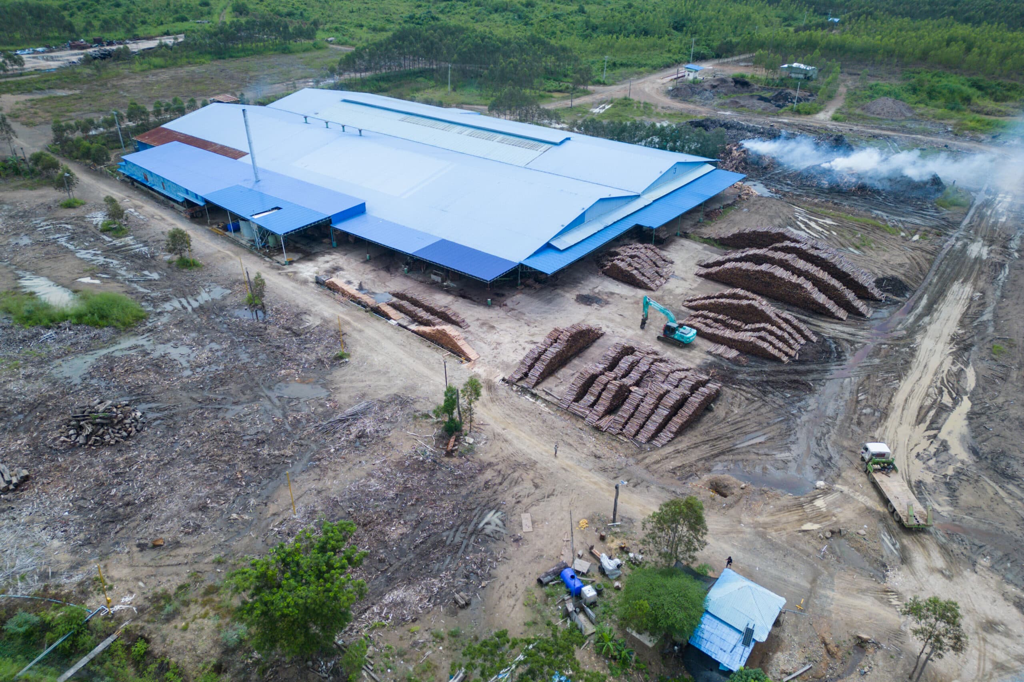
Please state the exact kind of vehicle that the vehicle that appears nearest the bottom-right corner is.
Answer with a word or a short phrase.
truck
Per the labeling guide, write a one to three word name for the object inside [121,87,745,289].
building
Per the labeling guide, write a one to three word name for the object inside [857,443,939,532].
truck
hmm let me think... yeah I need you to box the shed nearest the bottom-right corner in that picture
[687,568,807,682]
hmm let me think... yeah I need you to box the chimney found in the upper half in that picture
[241,107,260,182]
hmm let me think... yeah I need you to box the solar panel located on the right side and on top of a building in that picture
[730,626,754,661]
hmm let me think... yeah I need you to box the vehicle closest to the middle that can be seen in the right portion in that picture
[639,293,690,347]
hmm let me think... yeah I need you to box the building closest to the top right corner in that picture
[782,63,815,79]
